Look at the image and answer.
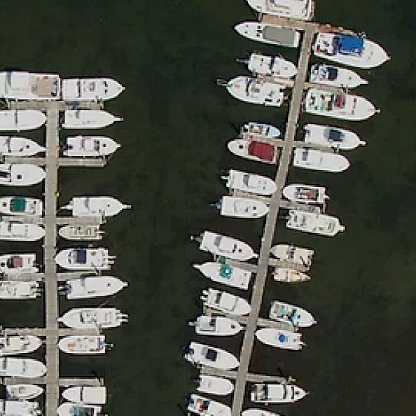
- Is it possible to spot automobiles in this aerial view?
No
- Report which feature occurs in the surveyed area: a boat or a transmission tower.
boat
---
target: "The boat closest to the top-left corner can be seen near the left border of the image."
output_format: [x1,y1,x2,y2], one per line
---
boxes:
[0,70,60,100]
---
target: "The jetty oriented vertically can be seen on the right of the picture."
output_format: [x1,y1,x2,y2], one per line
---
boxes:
[198,13,360,416]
